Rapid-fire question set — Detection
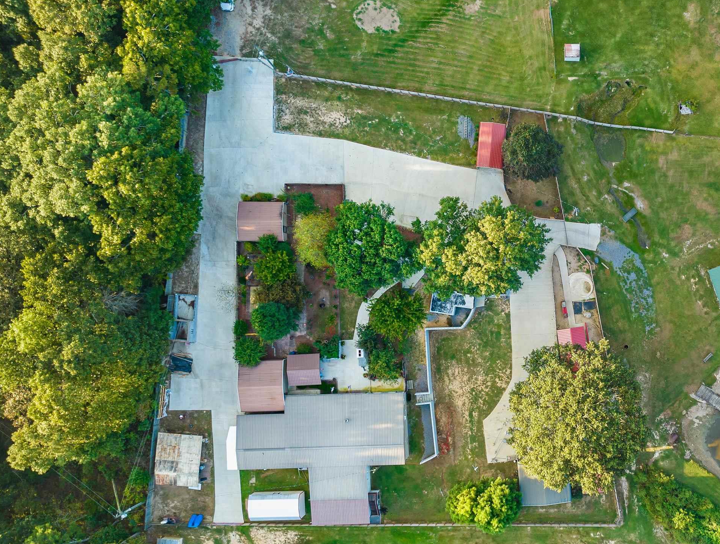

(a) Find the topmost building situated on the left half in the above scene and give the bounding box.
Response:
[236,201,288,241]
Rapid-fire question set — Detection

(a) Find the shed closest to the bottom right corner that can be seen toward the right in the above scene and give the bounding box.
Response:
[517,460,571,507]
